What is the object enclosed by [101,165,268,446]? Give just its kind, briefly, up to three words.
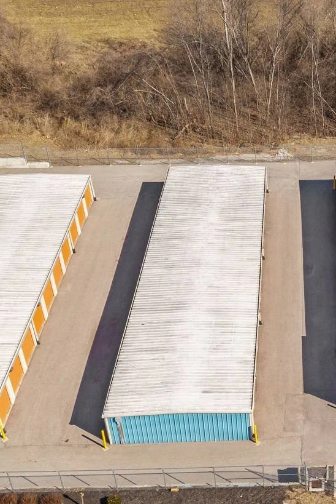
building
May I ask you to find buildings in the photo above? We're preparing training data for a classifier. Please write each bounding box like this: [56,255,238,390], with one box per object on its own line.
[101,165,268,446]
[0,173,96,436]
